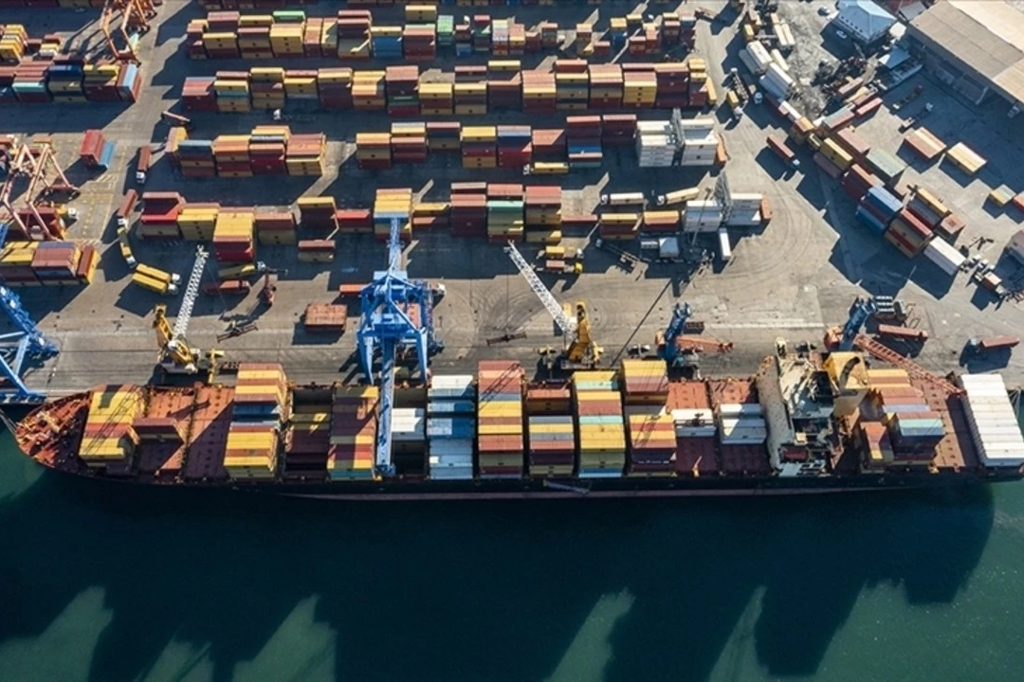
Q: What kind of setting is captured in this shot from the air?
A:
port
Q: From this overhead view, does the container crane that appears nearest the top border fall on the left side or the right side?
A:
left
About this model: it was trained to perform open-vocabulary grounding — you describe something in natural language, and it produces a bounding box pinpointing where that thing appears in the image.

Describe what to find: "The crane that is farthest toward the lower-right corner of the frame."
[800,297,969,390]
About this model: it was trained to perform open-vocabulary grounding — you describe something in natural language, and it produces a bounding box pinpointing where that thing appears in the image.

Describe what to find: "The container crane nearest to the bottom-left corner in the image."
[0,295,62,389]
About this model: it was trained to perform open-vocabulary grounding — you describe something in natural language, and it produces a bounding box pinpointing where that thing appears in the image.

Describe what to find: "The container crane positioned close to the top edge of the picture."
[92,0,155,62]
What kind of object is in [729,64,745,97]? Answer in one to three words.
vehicle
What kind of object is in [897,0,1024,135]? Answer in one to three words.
warehouse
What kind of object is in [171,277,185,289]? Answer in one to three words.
vehicle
